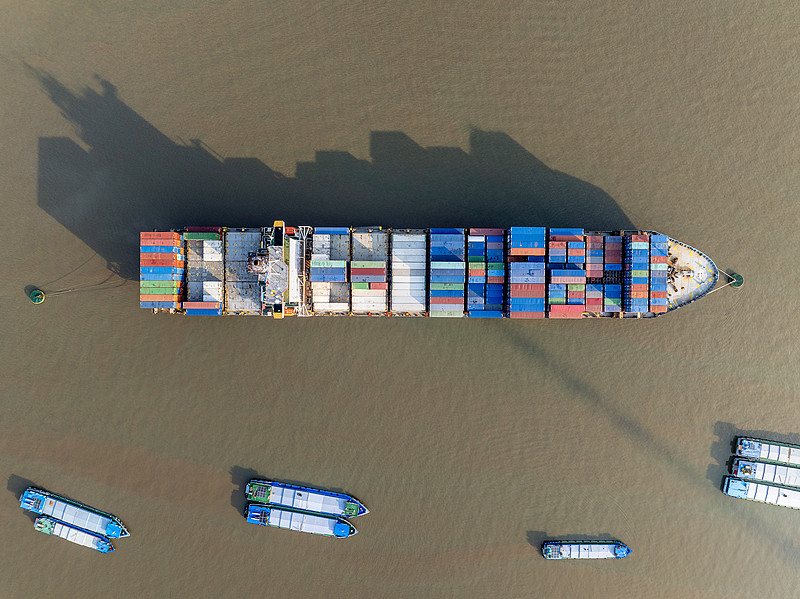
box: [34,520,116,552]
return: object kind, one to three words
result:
ship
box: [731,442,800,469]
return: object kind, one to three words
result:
ship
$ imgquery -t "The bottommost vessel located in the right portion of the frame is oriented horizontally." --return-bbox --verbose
[540,538,631,559]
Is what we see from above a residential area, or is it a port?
port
